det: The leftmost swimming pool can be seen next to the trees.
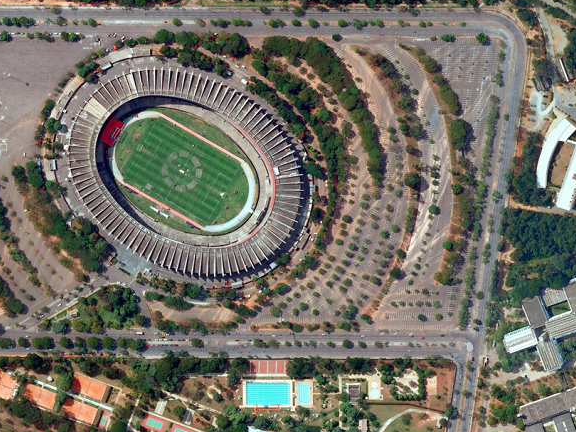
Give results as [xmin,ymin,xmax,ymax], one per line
[243,379,292,407]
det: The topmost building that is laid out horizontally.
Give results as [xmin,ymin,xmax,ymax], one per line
[98,49,151,67]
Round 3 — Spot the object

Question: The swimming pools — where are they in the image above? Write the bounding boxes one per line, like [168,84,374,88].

[370,388,381,399]
[243,379,292,407]
[295,379,312,407]
[369,379,380,390]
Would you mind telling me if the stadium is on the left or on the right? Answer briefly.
left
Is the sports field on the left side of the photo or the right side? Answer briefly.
left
